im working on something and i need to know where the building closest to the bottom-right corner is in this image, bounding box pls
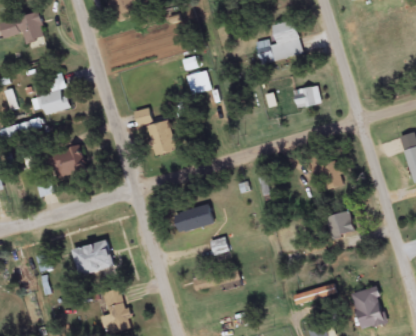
[352,286,388,328]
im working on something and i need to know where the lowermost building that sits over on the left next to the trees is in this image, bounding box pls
[102,294,134,333]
